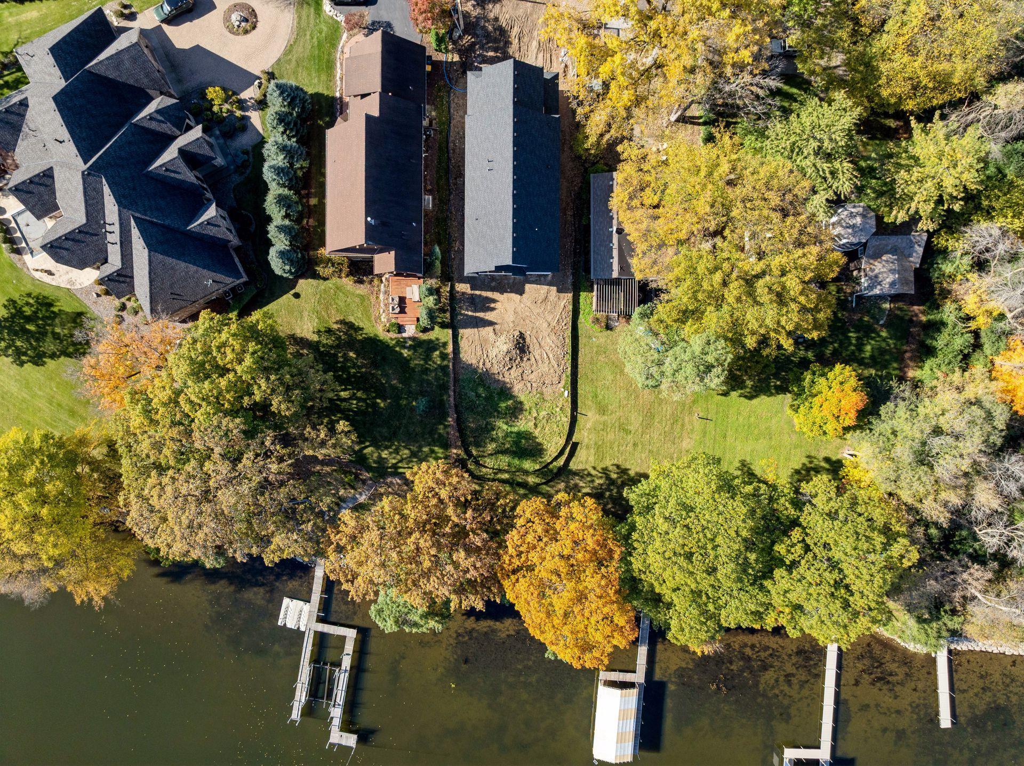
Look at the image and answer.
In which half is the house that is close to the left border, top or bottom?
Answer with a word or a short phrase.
top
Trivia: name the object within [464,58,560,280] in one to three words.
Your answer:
house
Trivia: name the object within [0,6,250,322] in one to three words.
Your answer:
house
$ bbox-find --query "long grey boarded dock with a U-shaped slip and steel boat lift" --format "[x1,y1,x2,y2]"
[288,558,358,754]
